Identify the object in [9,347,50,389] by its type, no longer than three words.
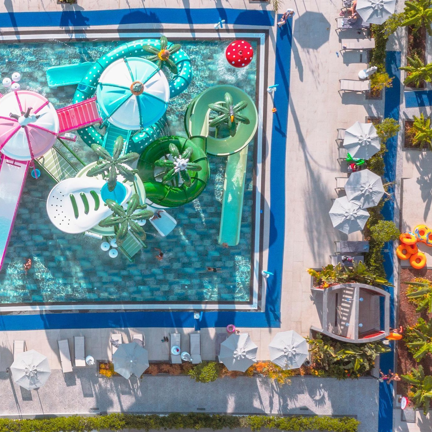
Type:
umbrella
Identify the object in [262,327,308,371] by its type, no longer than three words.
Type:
umbrella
